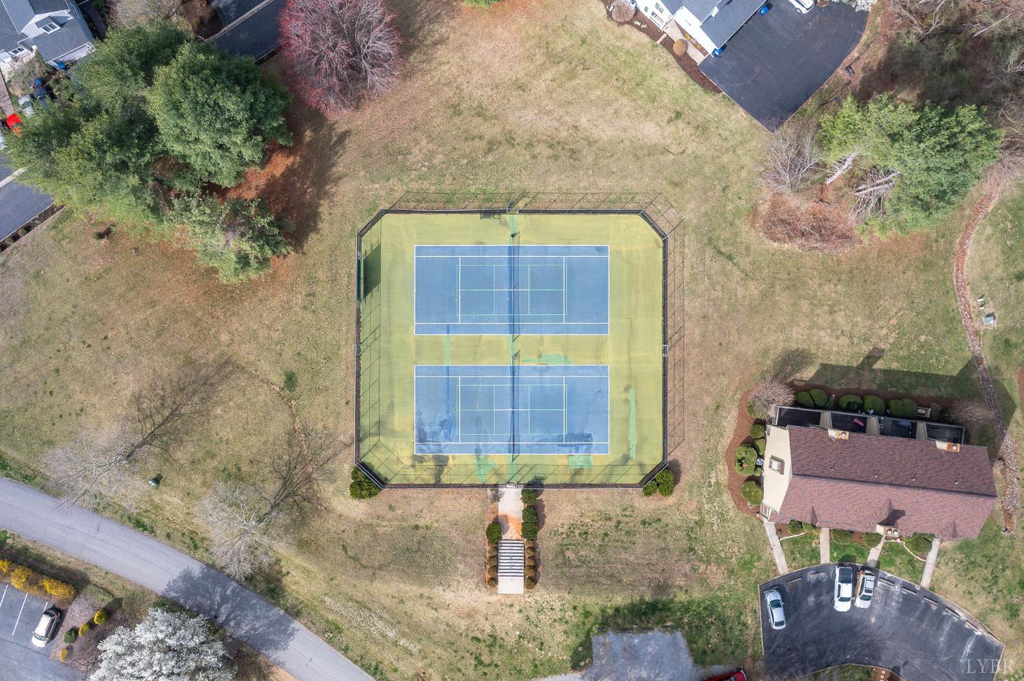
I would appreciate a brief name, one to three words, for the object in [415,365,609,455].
tennis court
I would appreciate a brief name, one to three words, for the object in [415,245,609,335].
tennis court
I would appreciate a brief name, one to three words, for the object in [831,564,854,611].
truck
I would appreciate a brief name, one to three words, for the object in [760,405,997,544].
building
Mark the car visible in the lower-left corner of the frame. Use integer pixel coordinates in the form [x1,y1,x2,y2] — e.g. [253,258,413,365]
[34,607,62,645]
